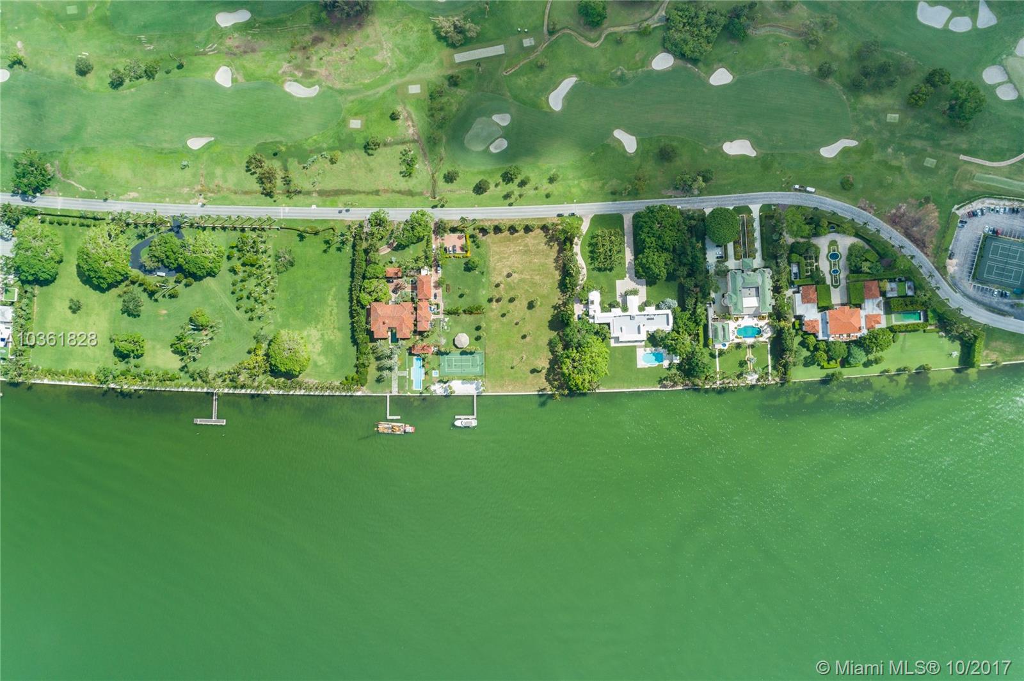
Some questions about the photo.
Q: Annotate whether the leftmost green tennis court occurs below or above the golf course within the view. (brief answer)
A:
below it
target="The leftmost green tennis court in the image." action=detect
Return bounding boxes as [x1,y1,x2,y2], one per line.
[440,352,484,376]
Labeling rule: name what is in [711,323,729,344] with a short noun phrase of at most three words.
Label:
building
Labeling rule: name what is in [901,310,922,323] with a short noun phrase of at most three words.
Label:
swimming pool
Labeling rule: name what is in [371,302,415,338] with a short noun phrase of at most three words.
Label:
house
